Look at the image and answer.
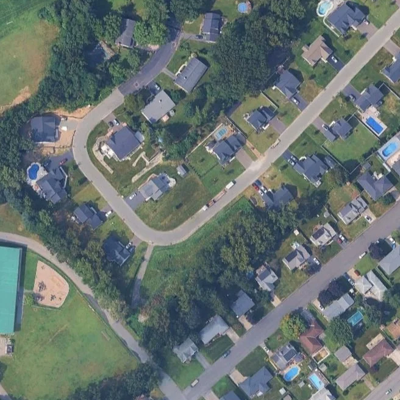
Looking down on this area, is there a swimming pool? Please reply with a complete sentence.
Yes, a swimming pool is visible in the scene.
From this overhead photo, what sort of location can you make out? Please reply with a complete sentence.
The picture captures a residential area.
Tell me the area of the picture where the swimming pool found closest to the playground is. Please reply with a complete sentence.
Look in the left portion of the view to spot the swimming pool found closest to the playground.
